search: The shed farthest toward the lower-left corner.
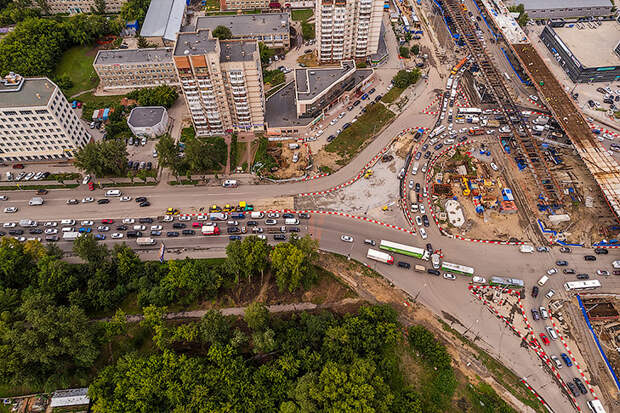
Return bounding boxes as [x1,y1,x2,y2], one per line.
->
[48,386,94,408]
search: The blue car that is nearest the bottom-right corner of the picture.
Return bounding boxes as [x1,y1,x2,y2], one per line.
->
[560,352,573,368]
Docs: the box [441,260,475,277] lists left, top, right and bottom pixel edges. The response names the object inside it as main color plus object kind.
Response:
white vehicle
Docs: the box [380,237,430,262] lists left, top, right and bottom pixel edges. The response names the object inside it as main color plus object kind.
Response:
white truck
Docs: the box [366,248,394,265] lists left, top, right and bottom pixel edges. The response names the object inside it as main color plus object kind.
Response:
white vehicle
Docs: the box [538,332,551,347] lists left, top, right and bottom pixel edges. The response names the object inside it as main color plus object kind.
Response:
red vehicle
